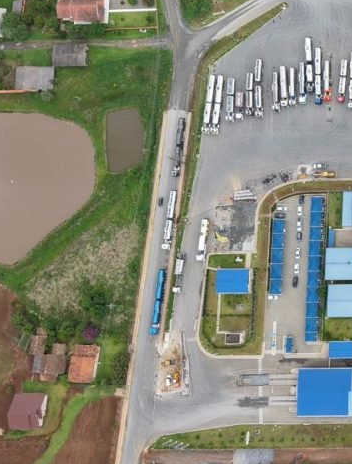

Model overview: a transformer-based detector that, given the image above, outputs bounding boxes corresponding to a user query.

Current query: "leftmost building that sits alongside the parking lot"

[216,269,251,294]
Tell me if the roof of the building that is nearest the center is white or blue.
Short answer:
blue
